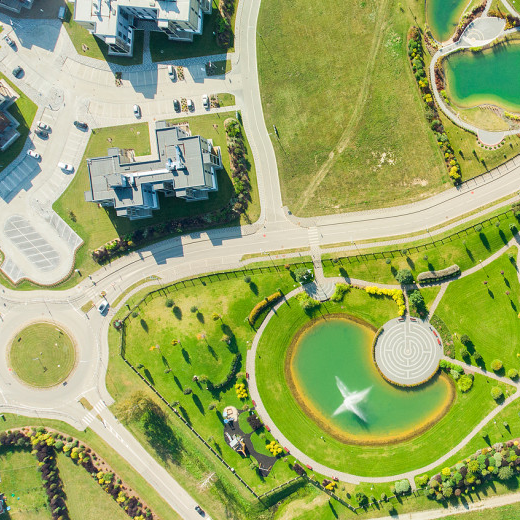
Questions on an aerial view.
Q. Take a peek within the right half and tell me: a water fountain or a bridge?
water fountain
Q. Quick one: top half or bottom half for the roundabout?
bottom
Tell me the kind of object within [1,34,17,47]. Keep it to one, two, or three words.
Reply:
vehicle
